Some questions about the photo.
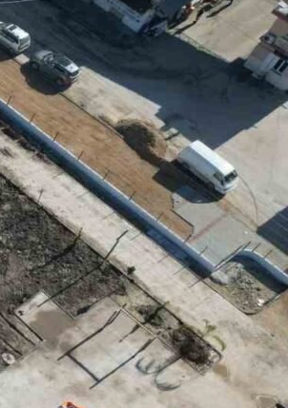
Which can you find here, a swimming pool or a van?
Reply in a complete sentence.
Visible in the photo is a van.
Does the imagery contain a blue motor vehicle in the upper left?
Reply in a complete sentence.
No, no blue motor vehicle is visible in the upper left.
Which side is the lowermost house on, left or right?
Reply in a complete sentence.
The lowermost house sits on the right side.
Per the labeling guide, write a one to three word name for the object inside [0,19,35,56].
car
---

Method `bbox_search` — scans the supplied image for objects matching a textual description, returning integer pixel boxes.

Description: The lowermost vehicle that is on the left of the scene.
[32,49,89,87]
